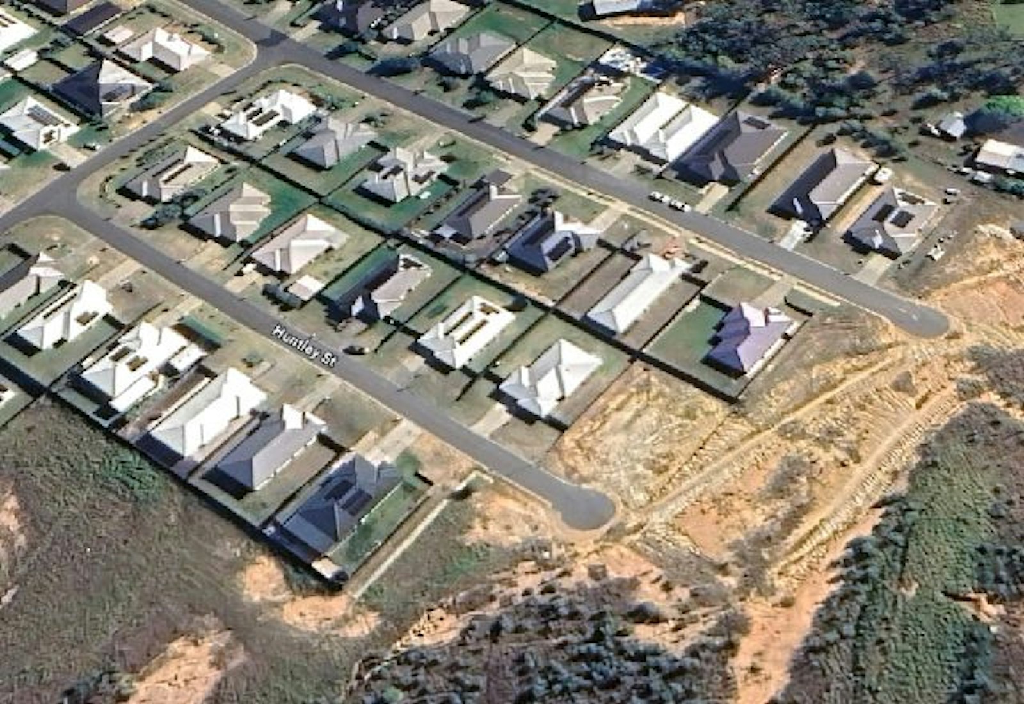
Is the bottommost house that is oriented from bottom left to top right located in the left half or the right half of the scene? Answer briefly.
left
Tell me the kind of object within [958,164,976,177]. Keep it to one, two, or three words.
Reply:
vehicle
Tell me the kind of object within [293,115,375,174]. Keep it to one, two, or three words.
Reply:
house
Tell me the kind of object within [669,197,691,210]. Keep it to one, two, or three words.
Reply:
vehicle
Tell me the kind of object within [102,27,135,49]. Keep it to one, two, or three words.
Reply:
shed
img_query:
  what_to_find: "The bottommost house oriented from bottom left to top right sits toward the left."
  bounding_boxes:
[283,452,403,551]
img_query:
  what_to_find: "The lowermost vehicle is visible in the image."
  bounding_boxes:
[346,341,367,355]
